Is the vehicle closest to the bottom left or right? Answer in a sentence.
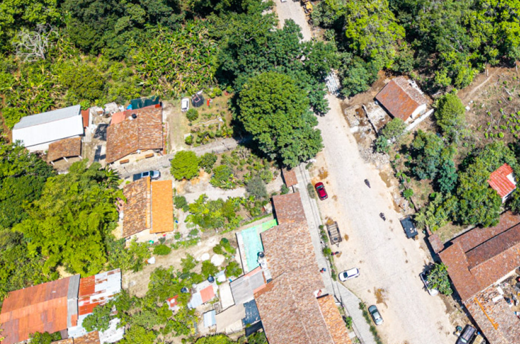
The vehicle closest to the bottom is on the right side of the image.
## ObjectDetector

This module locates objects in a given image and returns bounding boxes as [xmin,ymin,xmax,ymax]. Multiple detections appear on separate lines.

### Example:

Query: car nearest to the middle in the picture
[314,181,327,199]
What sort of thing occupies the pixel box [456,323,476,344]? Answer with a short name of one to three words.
vehicle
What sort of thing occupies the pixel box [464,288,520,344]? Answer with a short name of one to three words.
shed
